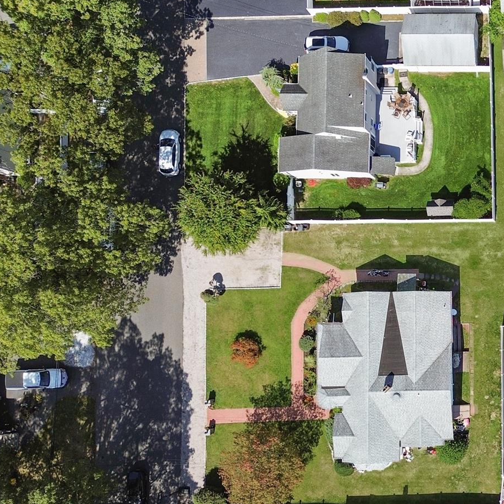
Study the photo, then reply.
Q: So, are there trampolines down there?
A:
No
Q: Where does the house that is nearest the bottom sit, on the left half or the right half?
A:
right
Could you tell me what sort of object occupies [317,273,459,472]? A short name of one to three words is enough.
house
